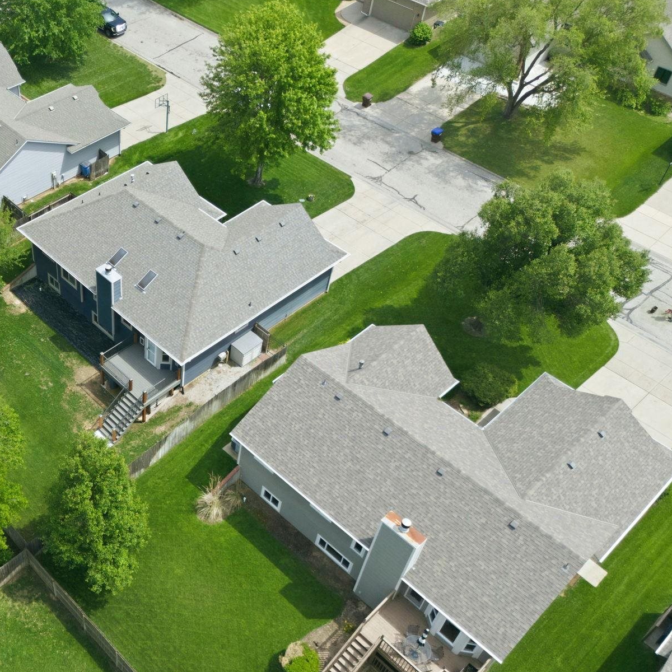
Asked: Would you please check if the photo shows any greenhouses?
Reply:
No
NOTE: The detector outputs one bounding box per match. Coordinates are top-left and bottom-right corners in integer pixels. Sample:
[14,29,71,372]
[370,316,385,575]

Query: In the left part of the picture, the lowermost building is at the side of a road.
[15,161,352,395]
